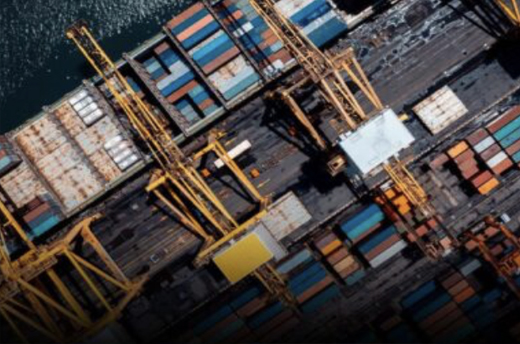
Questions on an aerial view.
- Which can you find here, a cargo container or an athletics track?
cargo container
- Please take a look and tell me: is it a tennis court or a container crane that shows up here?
container crane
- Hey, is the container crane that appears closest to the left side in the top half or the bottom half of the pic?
bottom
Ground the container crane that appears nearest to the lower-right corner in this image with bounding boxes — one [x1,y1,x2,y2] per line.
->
[448,206,520,307]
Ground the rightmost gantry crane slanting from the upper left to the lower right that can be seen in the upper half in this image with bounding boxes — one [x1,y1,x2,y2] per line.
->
[249,0,435,217]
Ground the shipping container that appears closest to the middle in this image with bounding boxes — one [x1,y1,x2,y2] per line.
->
[219,137,256,166]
